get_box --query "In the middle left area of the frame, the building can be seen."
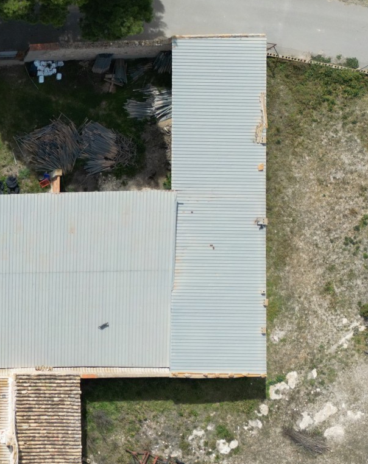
[0,191,177,368]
